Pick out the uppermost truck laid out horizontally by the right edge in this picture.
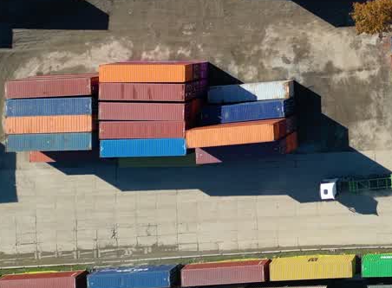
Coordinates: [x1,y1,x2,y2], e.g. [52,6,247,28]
[313,173,392,205]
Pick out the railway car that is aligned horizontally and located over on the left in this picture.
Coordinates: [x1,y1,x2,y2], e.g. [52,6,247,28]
[6,264,180,287]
